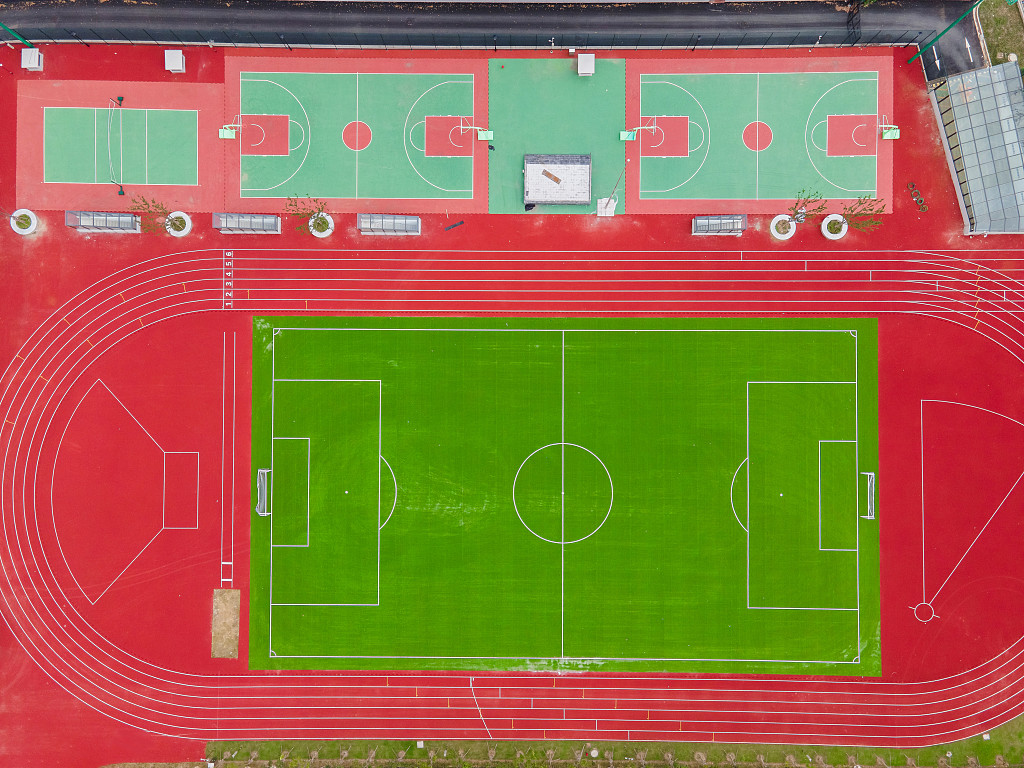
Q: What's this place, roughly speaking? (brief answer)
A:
sports ground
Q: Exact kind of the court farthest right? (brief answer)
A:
basketball court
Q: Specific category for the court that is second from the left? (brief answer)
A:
basketball court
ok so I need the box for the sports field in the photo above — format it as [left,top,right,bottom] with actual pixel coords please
[249,316,882,677]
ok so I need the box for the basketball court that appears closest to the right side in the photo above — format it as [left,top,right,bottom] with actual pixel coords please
[625,56,894,214]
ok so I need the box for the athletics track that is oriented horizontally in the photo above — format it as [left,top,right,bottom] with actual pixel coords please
[0,249,1024,748]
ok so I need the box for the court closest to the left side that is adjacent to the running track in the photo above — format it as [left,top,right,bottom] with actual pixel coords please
[17,79,224,213]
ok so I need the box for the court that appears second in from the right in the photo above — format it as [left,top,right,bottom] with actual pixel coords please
[224,56,489,214]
